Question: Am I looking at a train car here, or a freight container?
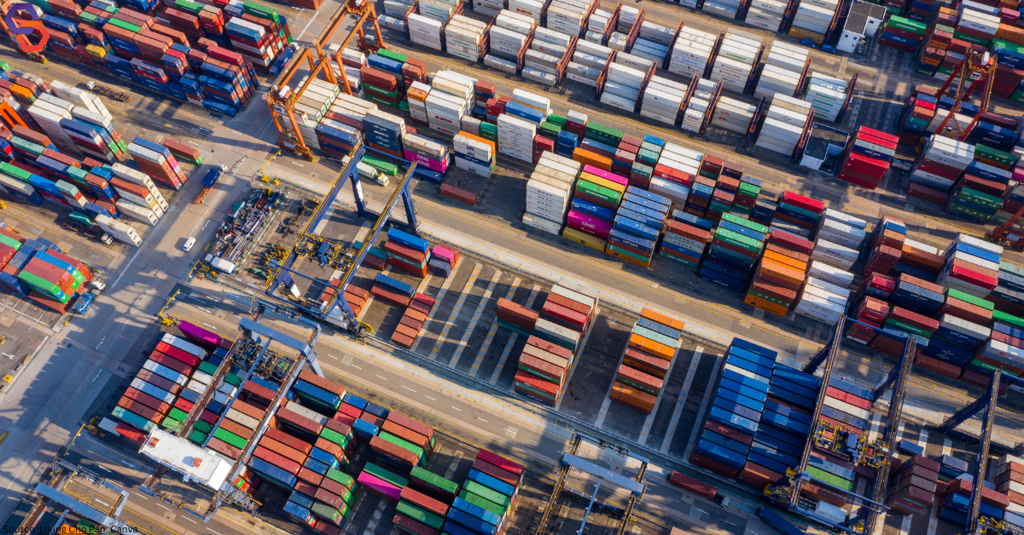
freight container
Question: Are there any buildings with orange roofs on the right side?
No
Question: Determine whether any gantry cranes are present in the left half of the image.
Yes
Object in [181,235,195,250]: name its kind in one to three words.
vehicle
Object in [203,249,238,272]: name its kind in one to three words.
truck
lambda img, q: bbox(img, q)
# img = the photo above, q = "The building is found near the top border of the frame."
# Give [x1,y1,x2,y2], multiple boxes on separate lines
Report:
[836,0,887,53]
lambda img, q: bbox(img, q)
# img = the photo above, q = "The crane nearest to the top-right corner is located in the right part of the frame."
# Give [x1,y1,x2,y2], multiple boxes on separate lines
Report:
[918,43,1003,149]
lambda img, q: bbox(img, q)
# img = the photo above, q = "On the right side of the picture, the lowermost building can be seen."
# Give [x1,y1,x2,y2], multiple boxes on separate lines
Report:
[800,121,850,175]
